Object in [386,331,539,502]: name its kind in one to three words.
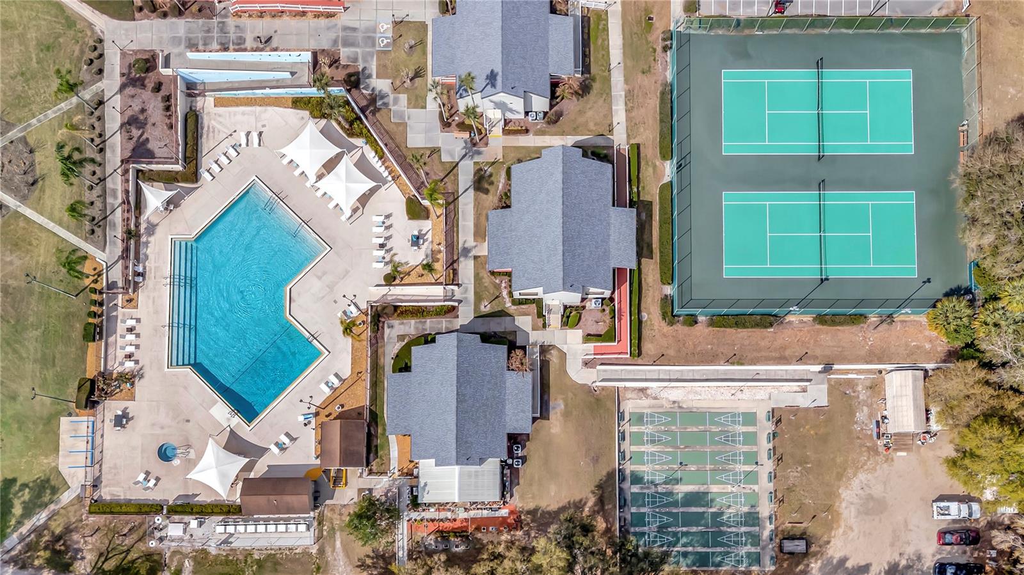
building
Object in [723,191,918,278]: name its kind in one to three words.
tennis court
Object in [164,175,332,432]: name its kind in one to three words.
swimming pool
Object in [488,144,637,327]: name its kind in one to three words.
building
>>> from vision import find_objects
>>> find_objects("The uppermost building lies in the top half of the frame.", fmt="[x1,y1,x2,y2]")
[432,0,605,136]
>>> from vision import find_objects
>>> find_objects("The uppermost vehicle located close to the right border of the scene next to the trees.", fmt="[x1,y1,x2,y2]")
[932,501,985,522]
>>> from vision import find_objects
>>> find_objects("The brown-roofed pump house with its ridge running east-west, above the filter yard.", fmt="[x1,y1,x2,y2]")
[241,478,320,515]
